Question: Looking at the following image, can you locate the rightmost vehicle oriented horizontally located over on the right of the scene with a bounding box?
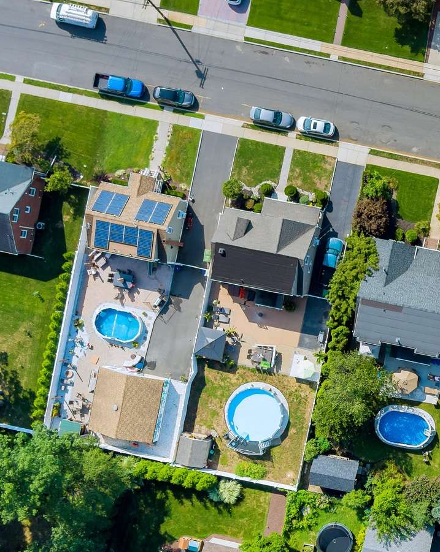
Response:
[296,116,337,138]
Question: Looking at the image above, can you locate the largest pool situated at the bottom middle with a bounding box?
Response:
[225,381,288,451]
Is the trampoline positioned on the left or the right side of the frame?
right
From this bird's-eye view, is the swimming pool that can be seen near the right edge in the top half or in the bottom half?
bottom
